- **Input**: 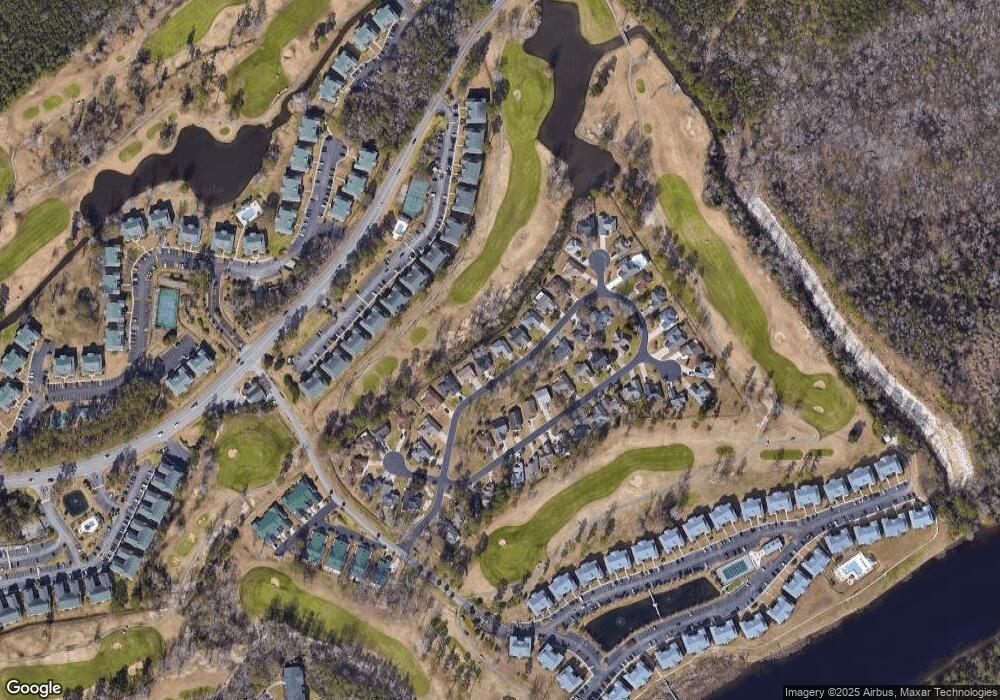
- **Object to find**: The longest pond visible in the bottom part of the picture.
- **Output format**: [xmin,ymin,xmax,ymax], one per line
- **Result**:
[586,577,720,651]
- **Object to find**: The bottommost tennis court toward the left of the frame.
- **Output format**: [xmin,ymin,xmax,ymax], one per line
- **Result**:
[156,289,179,327]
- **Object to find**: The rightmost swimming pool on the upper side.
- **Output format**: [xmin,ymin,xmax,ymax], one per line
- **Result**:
[393,220,408,237]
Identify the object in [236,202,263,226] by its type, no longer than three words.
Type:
swimming pool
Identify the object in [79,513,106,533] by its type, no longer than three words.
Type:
swimming pool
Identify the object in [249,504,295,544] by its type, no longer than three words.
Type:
house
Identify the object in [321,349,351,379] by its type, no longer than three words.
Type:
building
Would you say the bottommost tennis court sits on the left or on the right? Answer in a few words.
right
